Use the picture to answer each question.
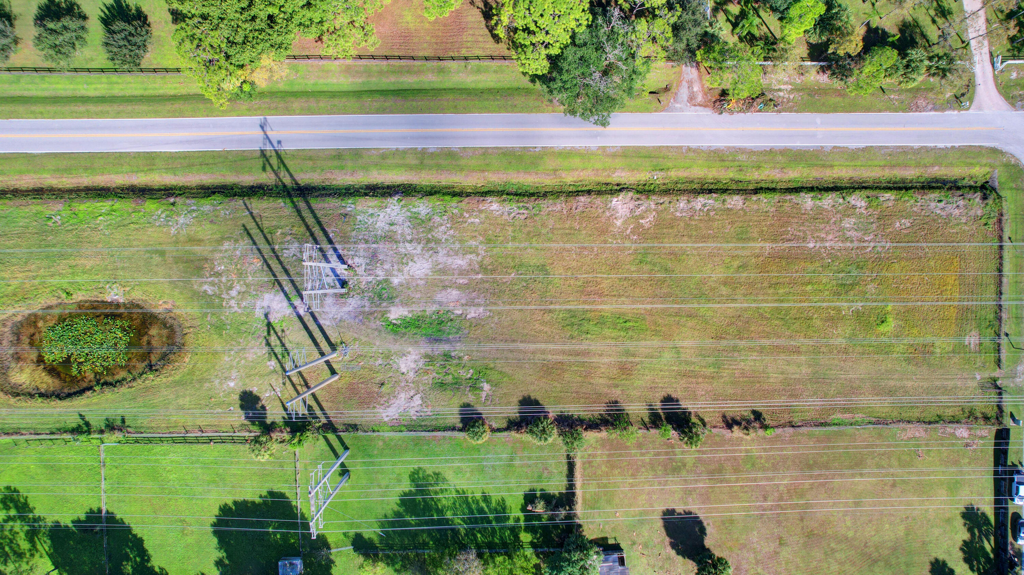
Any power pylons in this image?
Yes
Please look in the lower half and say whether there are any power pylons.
Yes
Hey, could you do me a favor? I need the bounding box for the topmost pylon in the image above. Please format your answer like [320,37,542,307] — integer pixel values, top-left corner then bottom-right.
[302,244,349,313]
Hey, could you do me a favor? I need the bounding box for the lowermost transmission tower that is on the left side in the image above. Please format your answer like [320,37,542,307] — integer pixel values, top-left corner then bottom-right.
[308,449,350,539]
